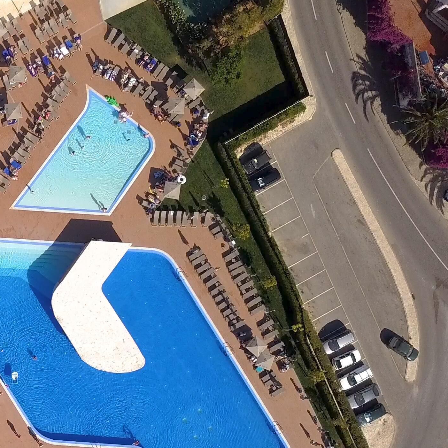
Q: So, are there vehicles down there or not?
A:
Yes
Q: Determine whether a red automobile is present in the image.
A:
No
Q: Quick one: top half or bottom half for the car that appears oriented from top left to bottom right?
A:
bottom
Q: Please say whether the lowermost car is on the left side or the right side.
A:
right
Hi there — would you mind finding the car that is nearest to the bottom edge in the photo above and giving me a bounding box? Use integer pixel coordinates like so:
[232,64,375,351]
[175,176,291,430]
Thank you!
[355,400,388,425]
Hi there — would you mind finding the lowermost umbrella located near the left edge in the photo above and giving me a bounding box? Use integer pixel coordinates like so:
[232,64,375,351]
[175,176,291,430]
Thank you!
[2,102,23,122]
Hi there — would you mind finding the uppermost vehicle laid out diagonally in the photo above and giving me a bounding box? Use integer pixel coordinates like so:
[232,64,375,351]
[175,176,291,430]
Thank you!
[238,146,278,177]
